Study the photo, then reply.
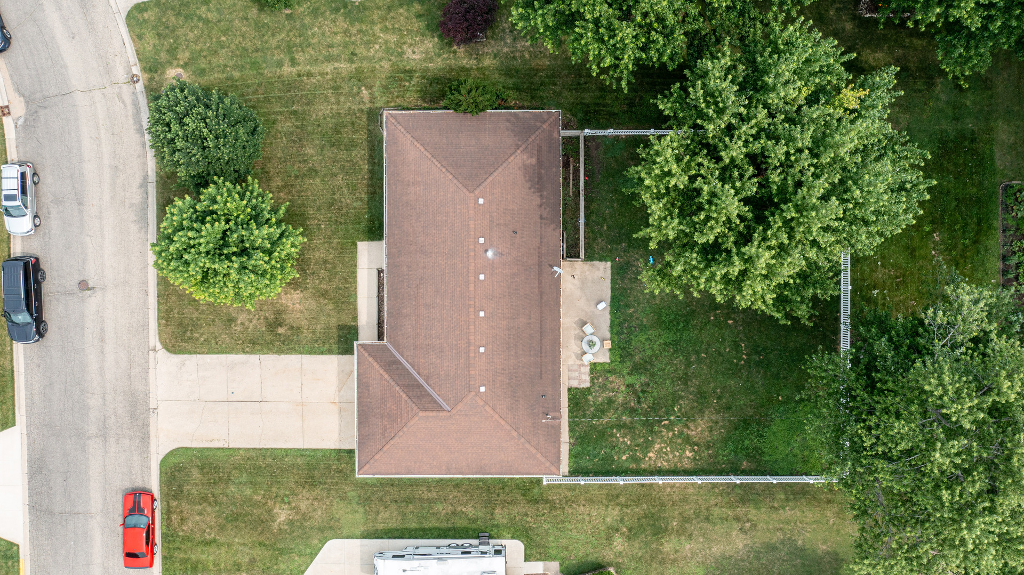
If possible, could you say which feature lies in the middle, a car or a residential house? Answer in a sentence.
It is a residential house that can be seen in the middle.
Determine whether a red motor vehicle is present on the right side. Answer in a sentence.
No, no red motor vehicle appears on the right side.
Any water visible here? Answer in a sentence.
No, there's no water in this view.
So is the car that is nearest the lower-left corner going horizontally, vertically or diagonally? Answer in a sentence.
I'd say the car that is nearest the lower-left corner is aligned vertically in the picture.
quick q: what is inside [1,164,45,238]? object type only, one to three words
car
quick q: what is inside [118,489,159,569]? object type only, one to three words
car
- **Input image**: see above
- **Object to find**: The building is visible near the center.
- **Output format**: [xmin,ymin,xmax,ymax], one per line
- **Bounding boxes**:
[356,111,562,475]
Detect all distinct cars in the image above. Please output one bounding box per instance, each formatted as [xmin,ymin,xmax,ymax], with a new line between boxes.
[118,489,159,569]
[0,9,12,53]
[1,164,45,238]
[2,255,50,344]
